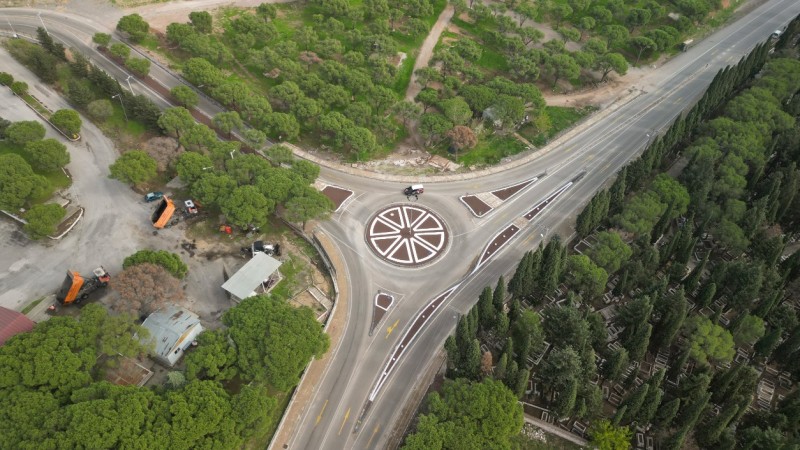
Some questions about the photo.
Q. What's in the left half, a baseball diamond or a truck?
truck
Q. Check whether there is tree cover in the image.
Yes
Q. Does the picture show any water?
No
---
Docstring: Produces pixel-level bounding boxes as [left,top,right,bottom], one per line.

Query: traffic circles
[362,203,451,269]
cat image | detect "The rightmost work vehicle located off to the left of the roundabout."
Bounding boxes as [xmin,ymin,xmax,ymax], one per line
[242,239,284,257]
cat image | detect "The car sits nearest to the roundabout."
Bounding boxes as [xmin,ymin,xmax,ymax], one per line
[403,184,423,197]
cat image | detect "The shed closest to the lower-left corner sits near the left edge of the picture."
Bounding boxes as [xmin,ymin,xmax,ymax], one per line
[0,305,38,348]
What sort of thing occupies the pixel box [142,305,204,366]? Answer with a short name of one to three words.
house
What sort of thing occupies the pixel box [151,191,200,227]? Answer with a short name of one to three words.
truck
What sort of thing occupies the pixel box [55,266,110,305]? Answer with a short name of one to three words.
truck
